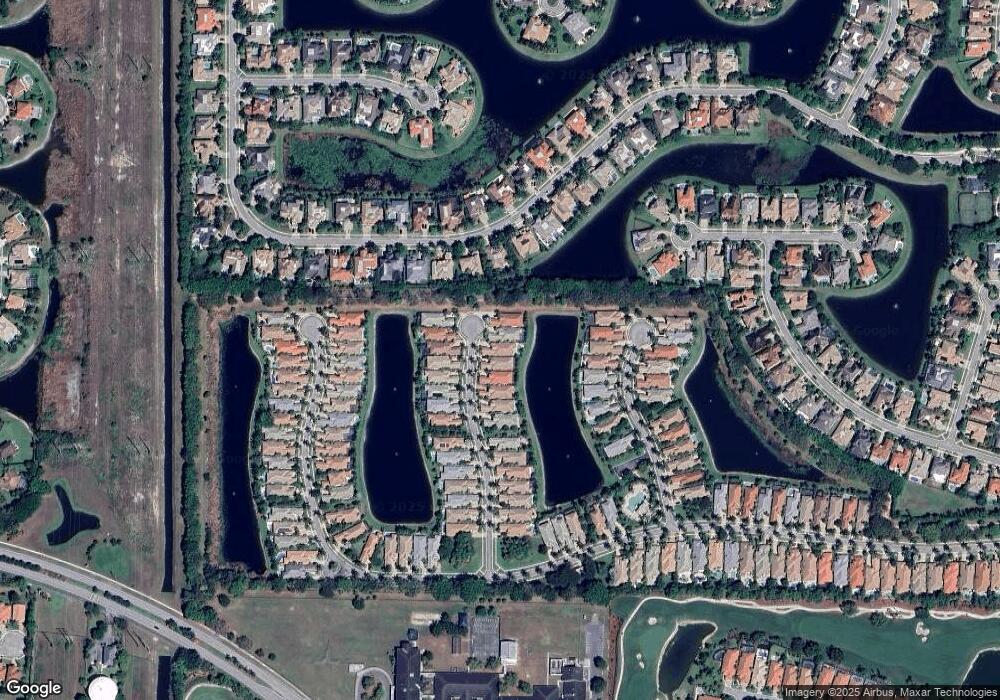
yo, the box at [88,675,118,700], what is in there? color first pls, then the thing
white water tank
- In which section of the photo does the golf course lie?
bottom right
